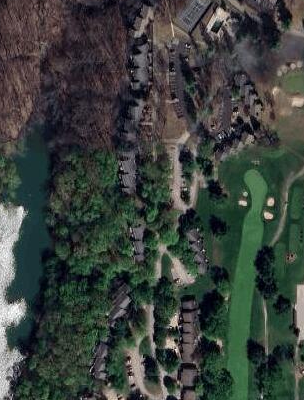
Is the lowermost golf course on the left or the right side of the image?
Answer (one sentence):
The lowermost golf course is on the right side of the image.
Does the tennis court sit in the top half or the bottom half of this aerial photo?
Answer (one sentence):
Seen from above, the tennis court lies in the top half of the view.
